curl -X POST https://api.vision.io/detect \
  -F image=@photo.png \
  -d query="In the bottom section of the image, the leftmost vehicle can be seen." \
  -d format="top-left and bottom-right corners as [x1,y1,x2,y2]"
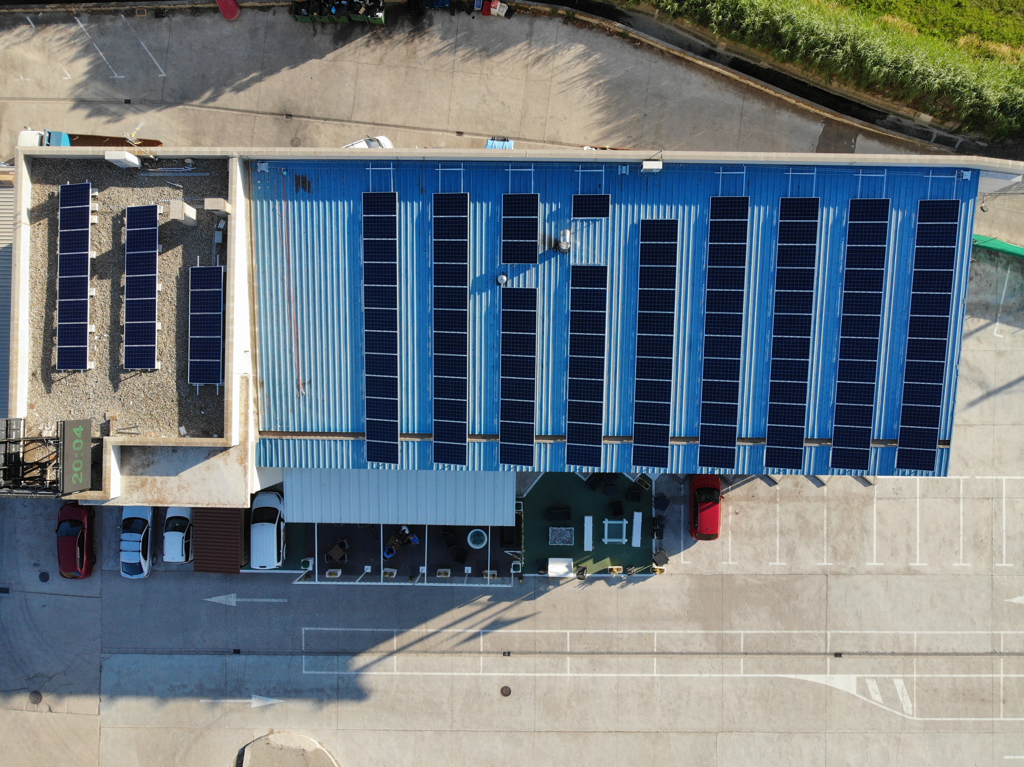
[52,499,102,582]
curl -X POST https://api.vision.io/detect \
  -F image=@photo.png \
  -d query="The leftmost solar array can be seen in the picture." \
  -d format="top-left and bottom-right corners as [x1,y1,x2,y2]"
[56,181,97,373]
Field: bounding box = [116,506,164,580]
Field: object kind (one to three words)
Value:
car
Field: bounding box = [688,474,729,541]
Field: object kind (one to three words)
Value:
car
